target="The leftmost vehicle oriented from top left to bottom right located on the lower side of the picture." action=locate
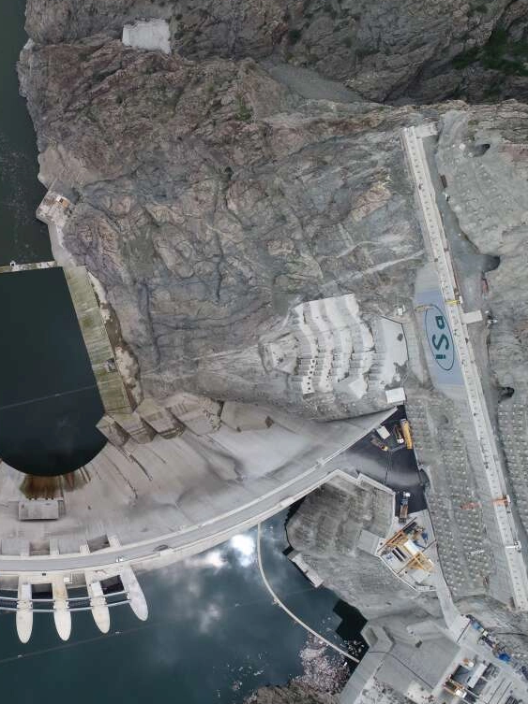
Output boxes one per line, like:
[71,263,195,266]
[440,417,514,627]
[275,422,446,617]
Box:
[372,437,390,452]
